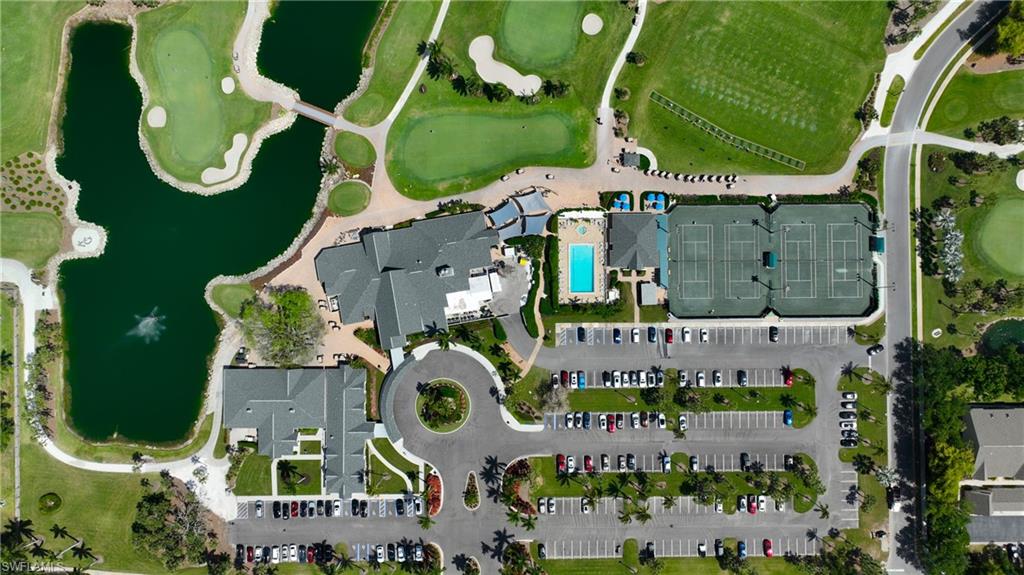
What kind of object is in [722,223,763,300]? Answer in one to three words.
tennis court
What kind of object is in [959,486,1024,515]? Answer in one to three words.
building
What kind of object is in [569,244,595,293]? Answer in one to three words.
swimming pool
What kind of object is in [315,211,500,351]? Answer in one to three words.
building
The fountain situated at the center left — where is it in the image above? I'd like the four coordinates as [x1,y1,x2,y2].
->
[131,310,164,338]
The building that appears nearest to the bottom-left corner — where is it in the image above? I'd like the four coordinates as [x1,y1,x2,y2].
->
[224,366,375,499]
